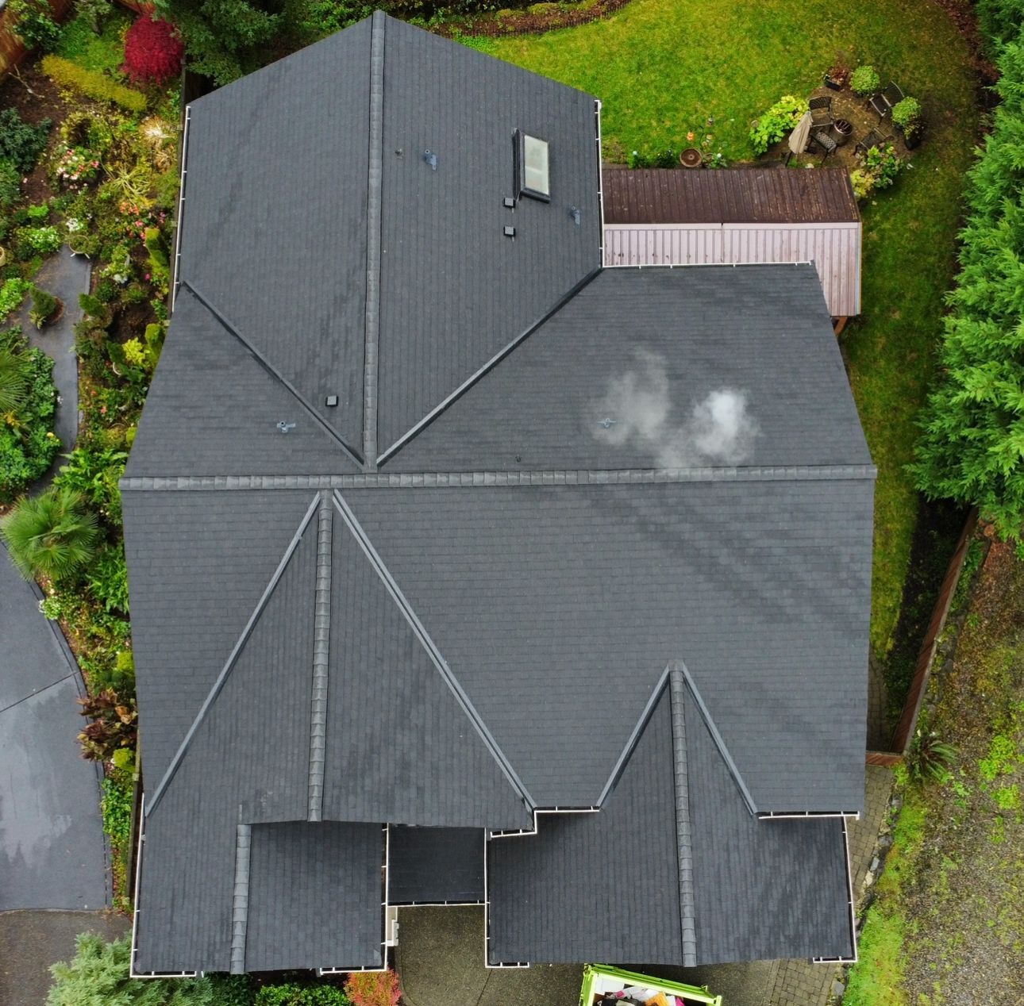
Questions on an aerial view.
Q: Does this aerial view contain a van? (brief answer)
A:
No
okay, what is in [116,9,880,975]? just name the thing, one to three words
house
